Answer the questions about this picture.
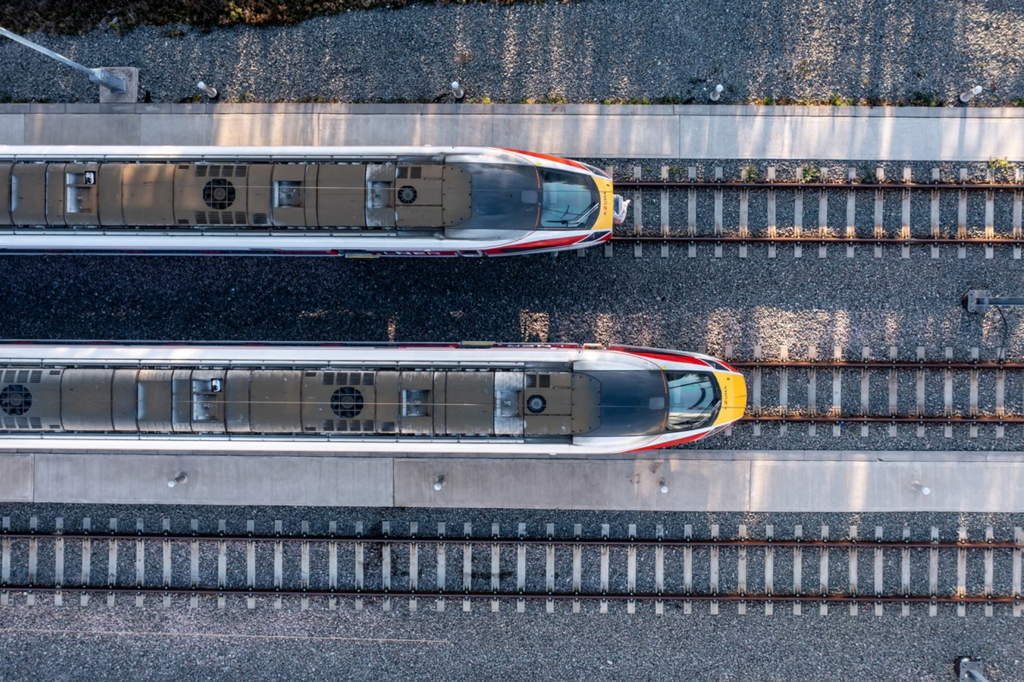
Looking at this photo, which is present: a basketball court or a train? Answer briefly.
train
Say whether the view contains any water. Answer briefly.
No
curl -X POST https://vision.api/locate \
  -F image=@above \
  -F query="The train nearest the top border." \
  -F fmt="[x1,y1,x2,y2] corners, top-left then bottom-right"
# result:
[0,146,634,259]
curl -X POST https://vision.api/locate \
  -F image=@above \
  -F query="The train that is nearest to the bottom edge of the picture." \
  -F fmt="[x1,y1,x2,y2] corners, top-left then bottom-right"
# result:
[0,339,748,452]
